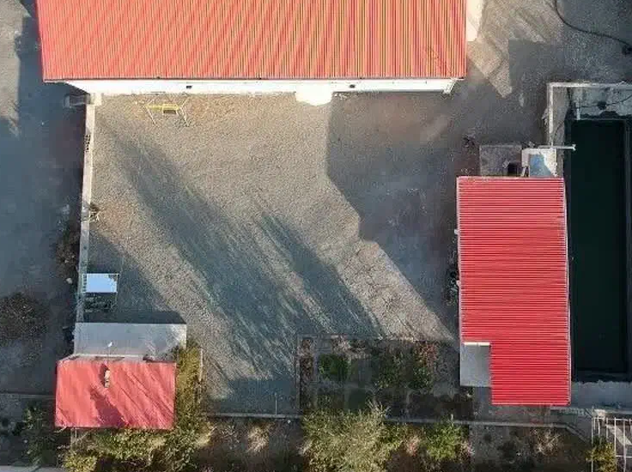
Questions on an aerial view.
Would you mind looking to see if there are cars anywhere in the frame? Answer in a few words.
No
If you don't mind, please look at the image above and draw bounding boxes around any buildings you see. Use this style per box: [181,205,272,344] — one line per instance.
[454,176,571,405]
[34,0,469,93]
[55,318,196,429]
